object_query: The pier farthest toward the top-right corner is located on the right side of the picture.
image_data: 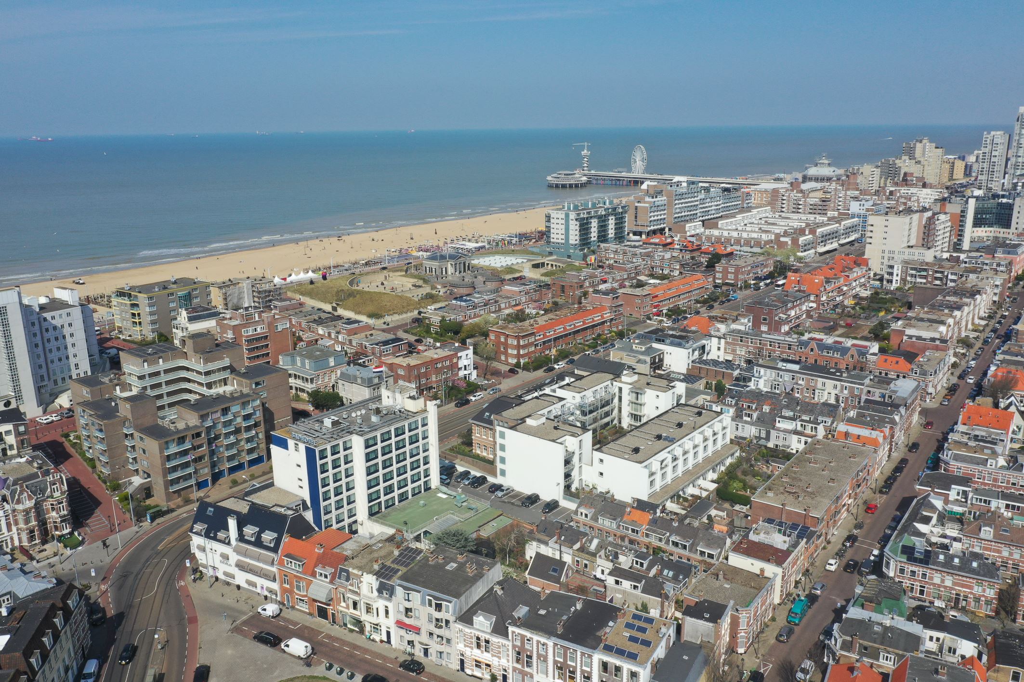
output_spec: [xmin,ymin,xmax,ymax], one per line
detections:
[580,170,793,187]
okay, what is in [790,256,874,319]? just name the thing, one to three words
building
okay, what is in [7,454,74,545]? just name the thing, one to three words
house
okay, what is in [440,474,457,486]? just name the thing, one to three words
vehicle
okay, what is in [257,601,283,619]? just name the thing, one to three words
vehicle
